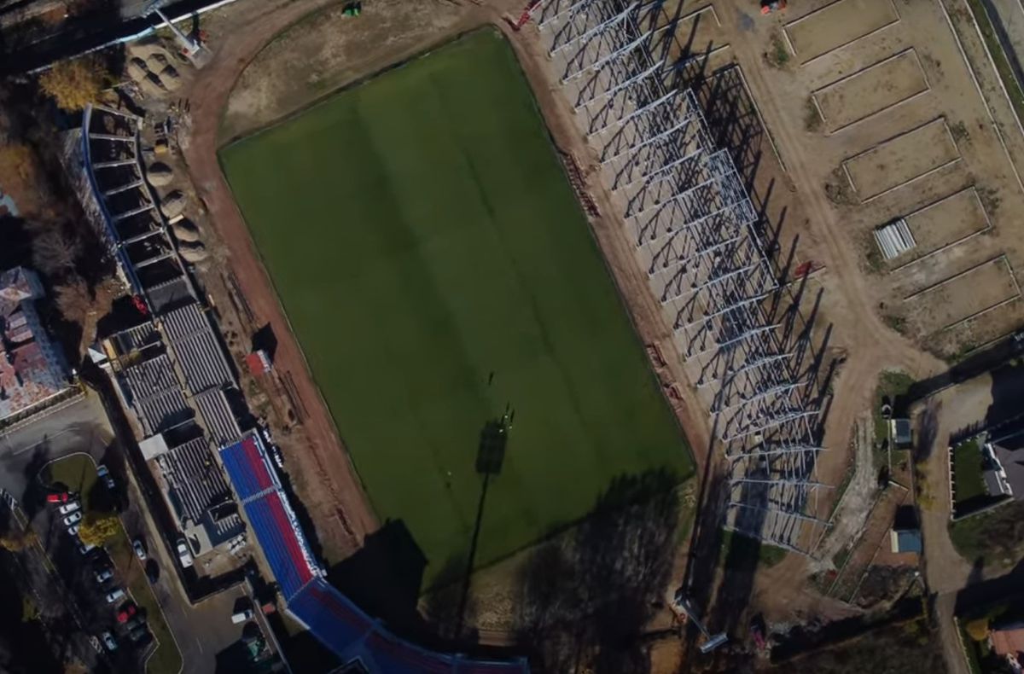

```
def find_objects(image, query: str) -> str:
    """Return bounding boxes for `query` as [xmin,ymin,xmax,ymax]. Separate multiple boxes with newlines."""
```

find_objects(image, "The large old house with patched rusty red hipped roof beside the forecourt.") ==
[0,265,86,413]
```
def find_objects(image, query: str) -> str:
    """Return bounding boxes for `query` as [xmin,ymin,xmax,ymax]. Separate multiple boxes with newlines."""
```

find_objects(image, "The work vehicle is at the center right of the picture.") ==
[795,261,824,280]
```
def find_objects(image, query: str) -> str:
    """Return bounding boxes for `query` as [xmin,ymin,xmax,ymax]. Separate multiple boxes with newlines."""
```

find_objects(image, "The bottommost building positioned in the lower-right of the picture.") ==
[980,603,1024,663]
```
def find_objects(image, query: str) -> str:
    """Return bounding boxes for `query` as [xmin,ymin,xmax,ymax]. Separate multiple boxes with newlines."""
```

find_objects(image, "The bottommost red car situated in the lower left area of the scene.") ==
[115,608,134,622]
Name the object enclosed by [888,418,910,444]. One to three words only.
shed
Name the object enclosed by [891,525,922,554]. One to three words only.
shed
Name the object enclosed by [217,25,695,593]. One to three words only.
soccer field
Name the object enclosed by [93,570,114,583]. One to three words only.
vehicle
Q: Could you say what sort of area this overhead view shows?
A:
sports ground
